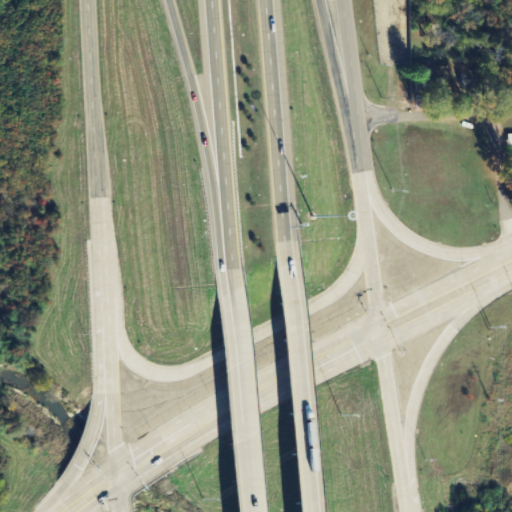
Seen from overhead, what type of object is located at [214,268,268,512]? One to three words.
bridge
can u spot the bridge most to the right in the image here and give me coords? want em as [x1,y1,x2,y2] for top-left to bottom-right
[276,242,326,512]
